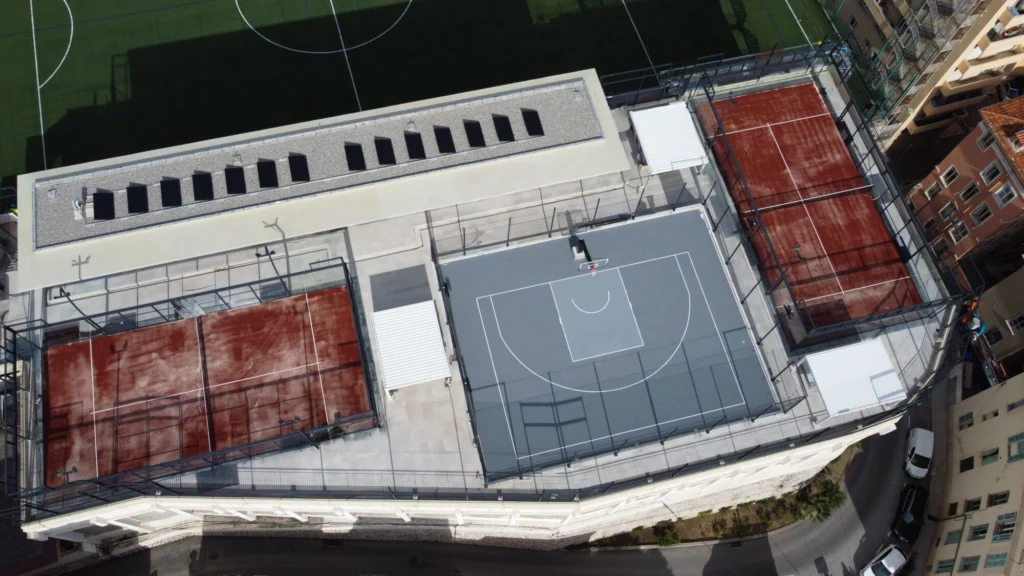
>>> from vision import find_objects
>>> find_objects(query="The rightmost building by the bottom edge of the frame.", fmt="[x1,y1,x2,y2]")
[924,372,1024,576]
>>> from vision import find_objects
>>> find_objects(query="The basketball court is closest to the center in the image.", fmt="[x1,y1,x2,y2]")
[432,204,787,483]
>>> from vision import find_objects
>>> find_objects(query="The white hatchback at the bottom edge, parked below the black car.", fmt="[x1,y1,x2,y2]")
[867,546,913,576]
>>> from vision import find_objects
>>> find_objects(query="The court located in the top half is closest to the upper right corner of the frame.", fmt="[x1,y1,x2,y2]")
[690,44,965,353]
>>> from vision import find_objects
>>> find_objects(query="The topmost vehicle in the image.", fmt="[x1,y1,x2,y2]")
[899,421,935,480]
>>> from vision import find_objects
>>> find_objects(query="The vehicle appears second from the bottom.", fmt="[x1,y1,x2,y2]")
[886,485,928,552]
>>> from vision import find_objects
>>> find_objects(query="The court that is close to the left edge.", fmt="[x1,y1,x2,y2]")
[3,254,380,508]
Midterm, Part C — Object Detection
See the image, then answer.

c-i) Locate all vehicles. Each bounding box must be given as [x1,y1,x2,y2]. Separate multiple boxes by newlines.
[899,421,935,480]
[867,546,913,576]
[886,485,928,552]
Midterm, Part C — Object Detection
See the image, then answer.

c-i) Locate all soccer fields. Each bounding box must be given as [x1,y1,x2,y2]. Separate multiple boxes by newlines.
[0,0,857,209]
